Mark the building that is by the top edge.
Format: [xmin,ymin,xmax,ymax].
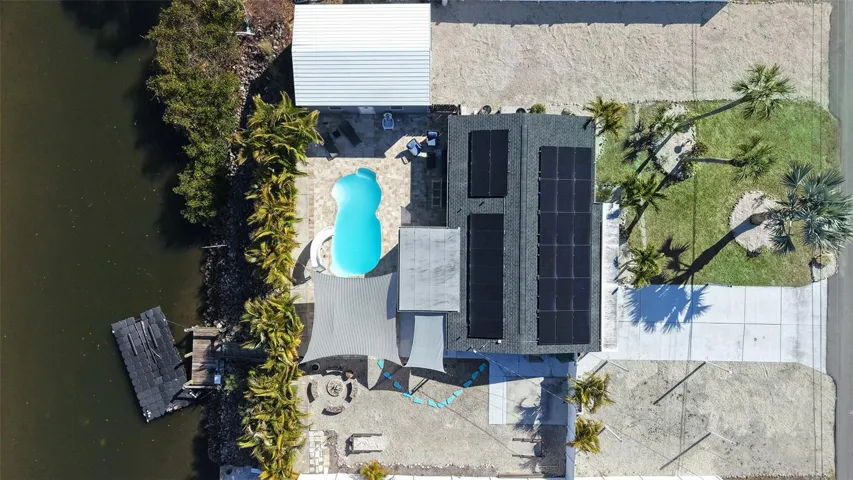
[292,3,431,114]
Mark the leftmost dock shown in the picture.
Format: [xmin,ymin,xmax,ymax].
[113,306,197,421]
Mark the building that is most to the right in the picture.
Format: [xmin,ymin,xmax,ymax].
[444,112,603,356]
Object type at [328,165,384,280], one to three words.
swimming pool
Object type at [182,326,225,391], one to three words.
pier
